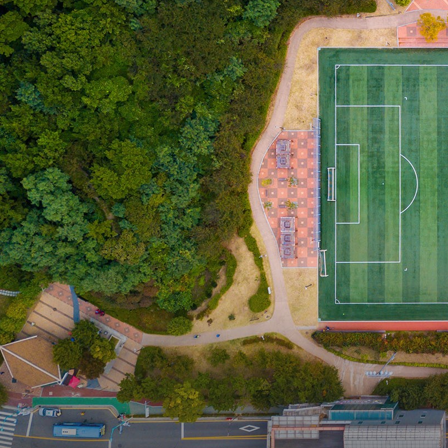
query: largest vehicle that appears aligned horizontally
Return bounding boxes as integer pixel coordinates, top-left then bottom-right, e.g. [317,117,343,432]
[50,421,108,437]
